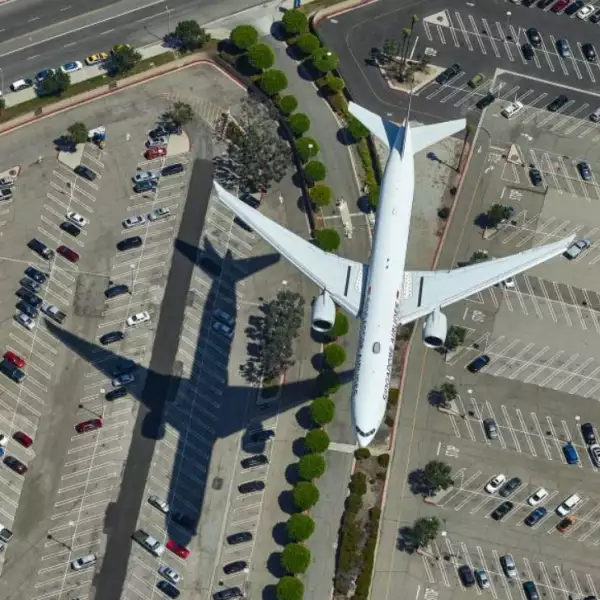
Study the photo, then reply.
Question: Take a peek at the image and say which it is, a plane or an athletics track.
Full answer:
This aerial view contains a plane.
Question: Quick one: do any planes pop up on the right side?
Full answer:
Yes, I can see a plane on the right side.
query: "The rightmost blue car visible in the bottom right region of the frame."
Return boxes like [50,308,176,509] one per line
[562,442,579,465]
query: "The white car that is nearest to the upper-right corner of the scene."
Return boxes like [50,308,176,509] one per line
[577,5,595,19]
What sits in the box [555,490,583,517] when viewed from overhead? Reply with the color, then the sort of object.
white vehicle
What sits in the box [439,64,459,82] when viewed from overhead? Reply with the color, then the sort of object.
black car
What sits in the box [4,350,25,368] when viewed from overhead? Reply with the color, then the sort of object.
red car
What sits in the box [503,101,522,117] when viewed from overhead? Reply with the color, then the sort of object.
white car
